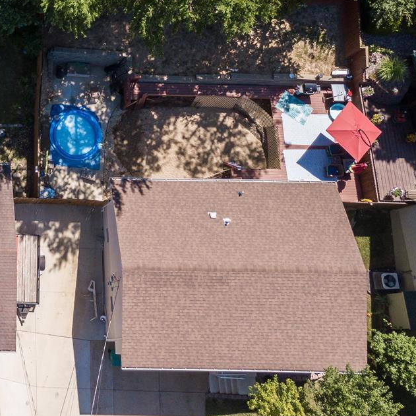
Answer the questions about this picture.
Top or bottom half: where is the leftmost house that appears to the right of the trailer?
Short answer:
bottom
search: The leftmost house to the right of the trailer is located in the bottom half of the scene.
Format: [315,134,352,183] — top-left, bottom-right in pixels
[100,178,370,374]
